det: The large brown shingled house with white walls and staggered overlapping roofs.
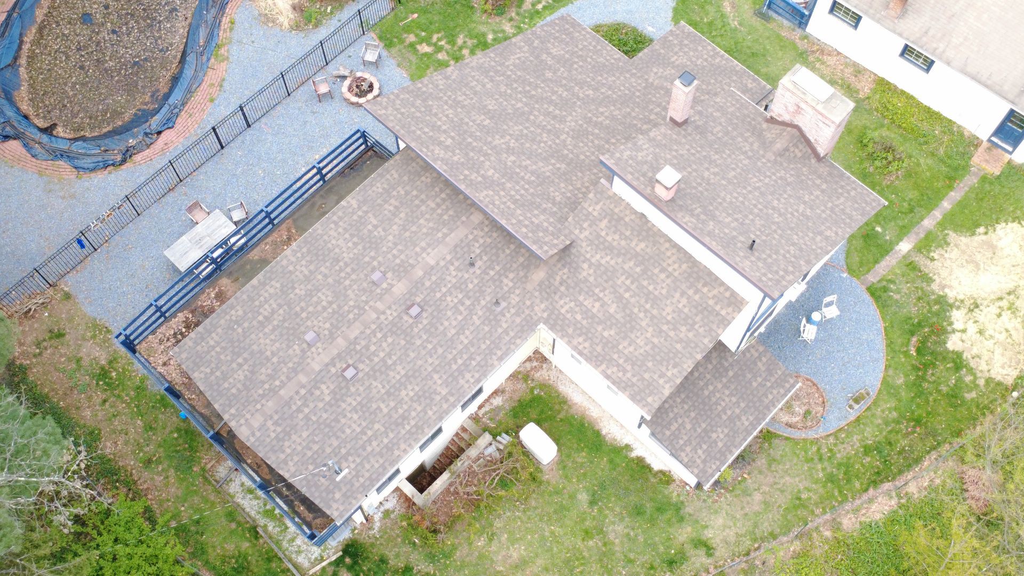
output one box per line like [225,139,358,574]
[169,13,888,526]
